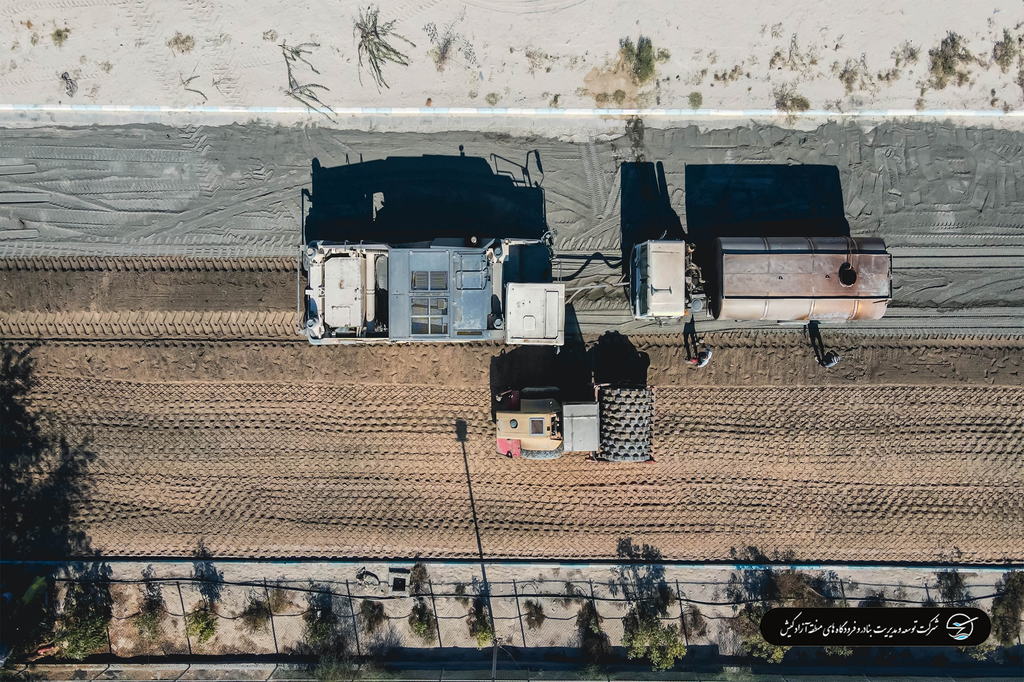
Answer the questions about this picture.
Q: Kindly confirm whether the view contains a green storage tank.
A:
No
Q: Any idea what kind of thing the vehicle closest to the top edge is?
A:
truck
